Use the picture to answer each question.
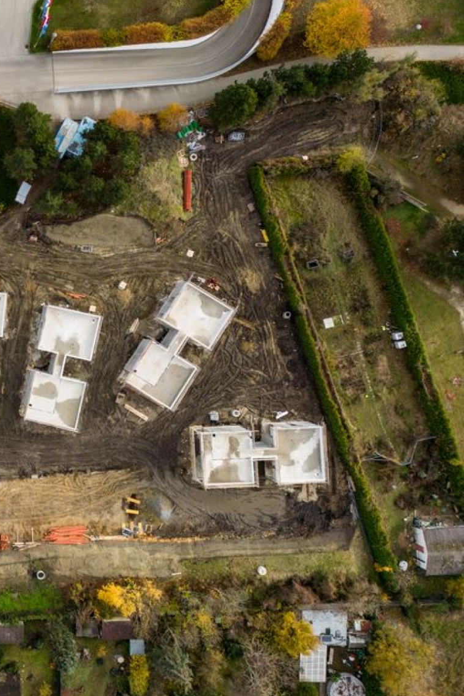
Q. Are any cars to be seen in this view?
No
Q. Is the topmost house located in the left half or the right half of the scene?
right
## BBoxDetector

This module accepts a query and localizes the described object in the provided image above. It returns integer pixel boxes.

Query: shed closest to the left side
[0,619,24,643]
